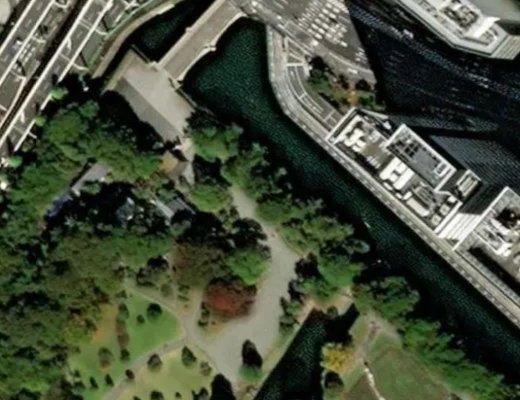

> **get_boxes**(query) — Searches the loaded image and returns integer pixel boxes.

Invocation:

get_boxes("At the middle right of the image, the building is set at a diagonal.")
[327,105,495,240]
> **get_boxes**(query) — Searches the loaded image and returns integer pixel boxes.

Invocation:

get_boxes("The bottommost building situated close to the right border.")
[451,190,520,310]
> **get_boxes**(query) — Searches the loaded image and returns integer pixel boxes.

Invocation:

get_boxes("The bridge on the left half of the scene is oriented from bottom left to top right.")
[148,0,248,85]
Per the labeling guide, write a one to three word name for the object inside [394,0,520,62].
building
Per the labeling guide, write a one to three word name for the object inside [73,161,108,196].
house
